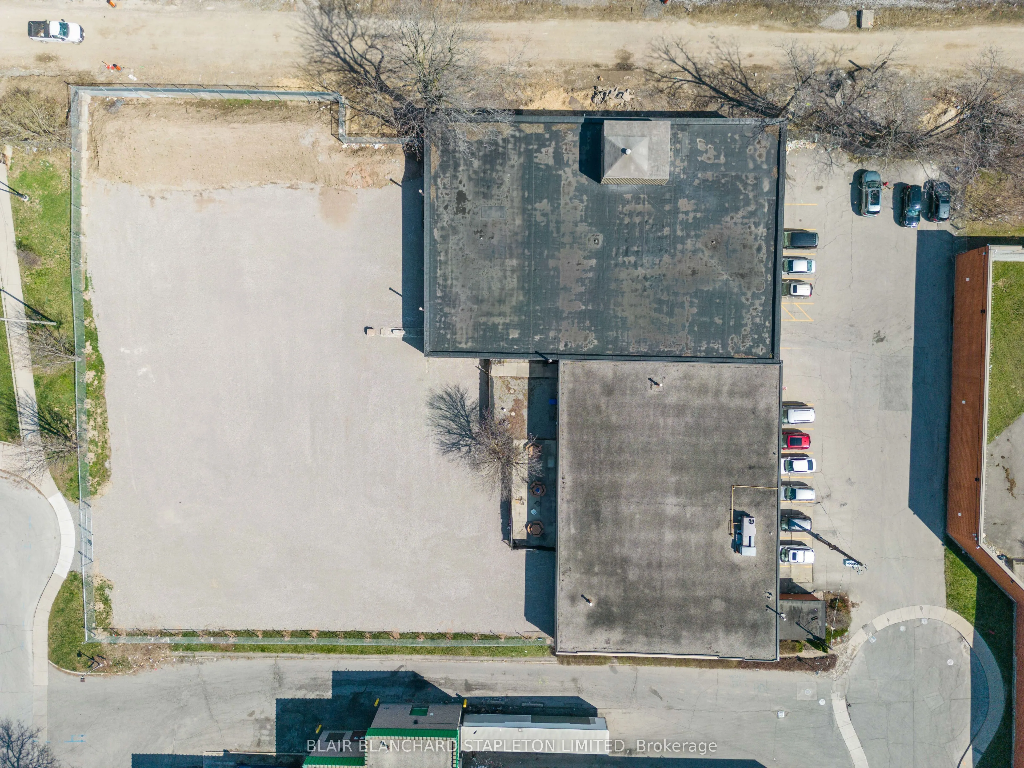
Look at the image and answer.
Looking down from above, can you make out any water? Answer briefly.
No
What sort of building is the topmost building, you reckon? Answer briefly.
warehouse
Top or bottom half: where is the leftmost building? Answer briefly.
bottom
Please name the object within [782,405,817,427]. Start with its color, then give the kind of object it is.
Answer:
white car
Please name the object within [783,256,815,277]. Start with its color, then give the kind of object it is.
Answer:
white car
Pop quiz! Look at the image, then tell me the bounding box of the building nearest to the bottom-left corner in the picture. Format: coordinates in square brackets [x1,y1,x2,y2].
[303,704,463,768]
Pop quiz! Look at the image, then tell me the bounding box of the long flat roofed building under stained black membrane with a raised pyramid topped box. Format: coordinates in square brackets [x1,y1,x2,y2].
[423,114,788,364]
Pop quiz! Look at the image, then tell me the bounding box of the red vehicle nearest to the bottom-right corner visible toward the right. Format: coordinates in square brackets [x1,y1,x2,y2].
[781,432,811,450]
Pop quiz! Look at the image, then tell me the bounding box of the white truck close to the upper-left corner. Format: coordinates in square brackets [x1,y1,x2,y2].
[22,15,81,43]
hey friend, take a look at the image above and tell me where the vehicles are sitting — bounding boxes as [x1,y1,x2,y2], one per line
[900,184,925,230]
[926,180,953,225]
[781,483,818,504]
[784,228,821,252]
[860,172,885,219]
[780,543,817,566]
[781,513,814,535]
[22,15,81,43]
[781,432,811,450]
[783,256,815,277]
[782,405,817,427]
[782,279,815,301]
[781,455,815,477]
